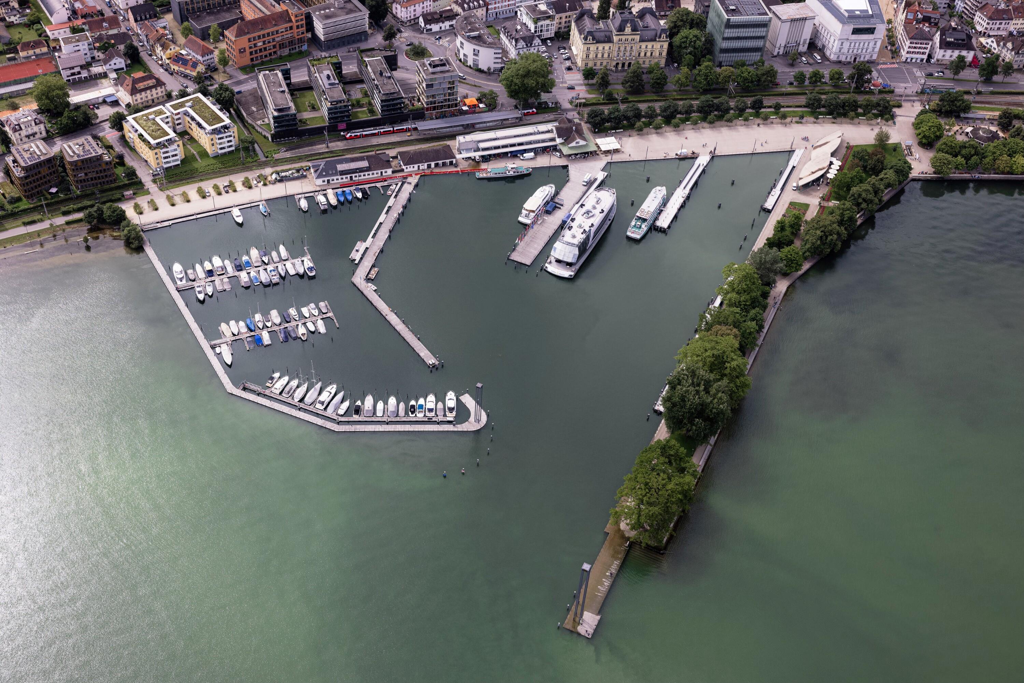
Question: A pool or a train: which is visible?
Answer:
train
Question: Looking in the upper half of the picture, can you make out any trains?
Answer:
Yes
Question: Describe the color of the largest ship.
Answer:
white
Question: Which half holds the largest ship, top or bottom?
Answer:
top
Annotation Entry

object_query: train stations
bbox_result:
[273,108,555,160]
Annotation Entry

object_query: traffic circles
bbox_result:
[389,37,449,69]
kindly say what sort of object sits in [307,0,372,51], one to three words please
building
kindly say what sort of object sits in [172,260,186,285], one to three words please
boat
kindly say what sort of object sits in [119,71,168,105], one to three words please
house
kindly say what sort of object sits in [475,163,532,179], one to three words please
ship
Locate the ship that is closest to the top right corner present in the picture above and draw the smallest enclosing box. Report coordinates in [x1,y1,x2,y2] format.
[628,186,665,240]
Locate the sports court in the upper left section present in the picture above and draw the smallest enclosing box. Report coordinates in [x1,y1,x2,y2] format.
[0,45,59,83]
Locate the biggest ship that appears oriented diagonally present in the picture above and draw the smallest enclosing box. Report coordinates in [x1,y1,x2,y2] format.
[545,185,615,278]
